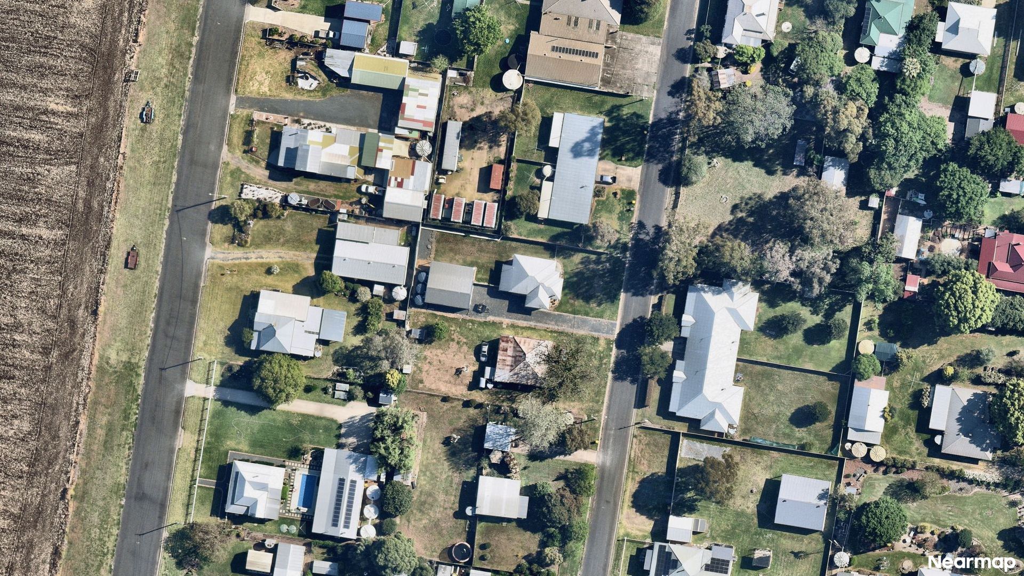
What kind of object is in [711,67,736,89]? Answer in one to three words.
shed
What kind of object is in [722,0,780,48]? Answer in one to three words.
house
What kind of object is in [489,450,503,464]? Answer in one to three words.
gazebo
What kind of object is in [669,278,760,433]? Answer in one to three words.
building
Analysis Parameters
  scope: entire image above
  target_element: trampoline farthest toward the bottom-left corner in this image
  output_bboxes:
[452,543,471,562]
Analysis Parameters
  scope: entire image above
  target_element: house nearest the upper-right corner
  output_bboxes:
[940,2,998,55]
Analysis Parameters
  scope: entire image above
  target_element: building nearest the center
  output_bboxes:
[499,253,564,310]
